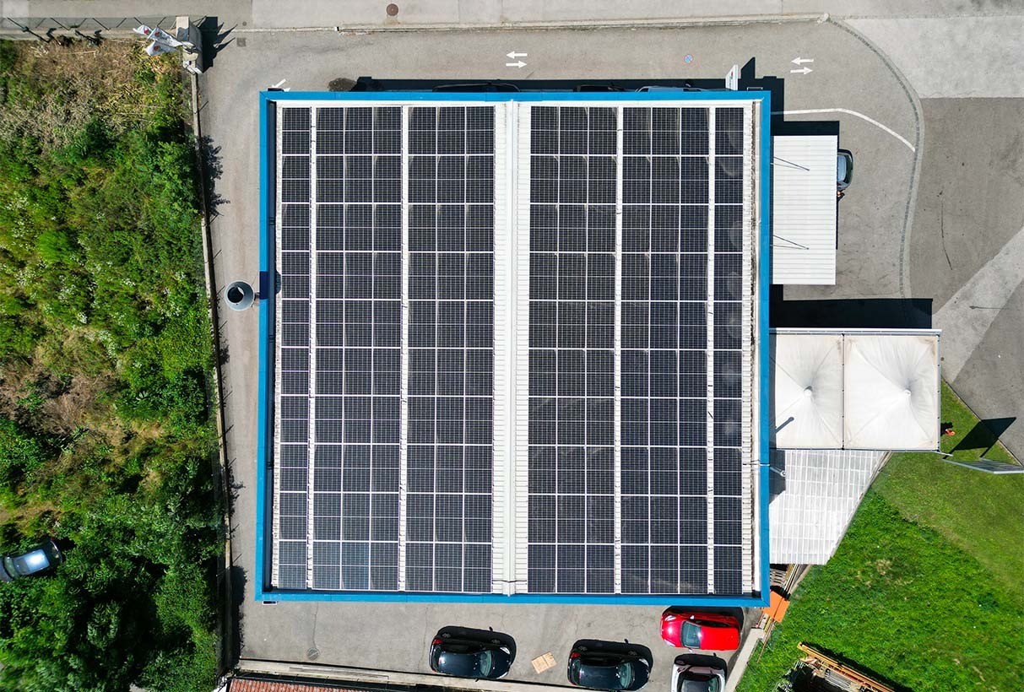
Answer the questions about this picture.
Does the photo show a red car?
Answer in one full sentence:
Yes, there is a red car in the image.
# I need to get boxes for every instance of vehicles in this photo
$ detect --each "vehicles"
[658,607,743,656]
[837,153,854,189]
[668,664,726,692]
[638,79,720,91]
[565,81,638,91]
[429,634,512,686]
[568,646,651,692]
[0,533,69,590]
